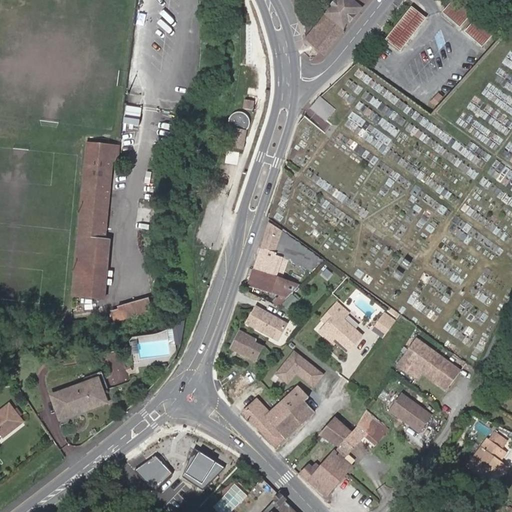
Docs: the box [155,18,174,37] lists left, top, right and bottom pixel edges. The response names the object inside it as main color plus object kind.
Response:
white vehicle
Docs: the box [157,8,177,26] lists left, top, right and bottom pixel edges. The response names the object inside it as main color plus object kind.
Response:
white vehicle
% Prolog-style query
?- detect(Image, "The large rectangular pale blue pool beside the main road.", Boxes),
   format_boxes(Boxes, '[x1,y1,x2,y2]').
[132,329,176,372]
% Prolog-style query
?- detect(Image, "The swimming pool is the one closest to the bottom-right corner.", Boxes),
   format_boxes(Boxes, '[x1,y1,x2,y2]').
[473,418,494,440]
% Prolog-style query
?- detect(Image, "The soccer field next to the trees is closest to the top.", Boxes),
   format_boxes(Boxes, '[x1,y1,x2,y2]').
[0,0,136,141]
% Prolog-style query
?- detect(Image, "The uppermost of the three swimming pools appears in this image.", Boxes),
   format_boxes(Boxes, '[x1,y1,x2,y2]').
[356,298,376,320]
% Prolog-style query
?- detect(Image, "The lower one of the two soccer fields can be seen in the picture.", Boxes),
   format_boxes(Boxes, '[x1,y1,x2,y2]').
[0,134,83,306]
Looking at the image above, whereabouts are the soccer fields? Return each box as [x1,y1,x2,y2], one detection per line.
[0,0,136,141]
[0,134,83,306]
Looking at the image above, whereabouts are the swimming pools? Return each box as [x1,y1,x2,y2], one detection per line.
[132,329,176,372]
[473,418,494,440]
[356,298,376,320]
